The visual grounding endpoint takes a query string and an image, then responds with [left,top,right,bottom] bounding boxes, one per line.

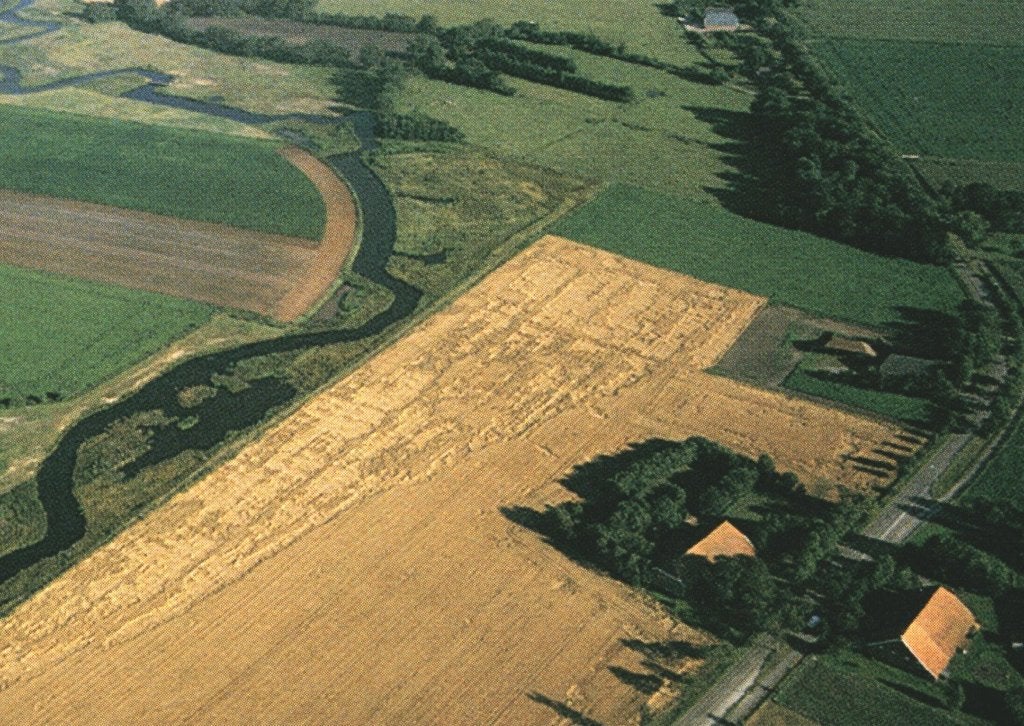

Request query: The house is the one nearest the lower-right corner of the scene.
[857,583,977,679]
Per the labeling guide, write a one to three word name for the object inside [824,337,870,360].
house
